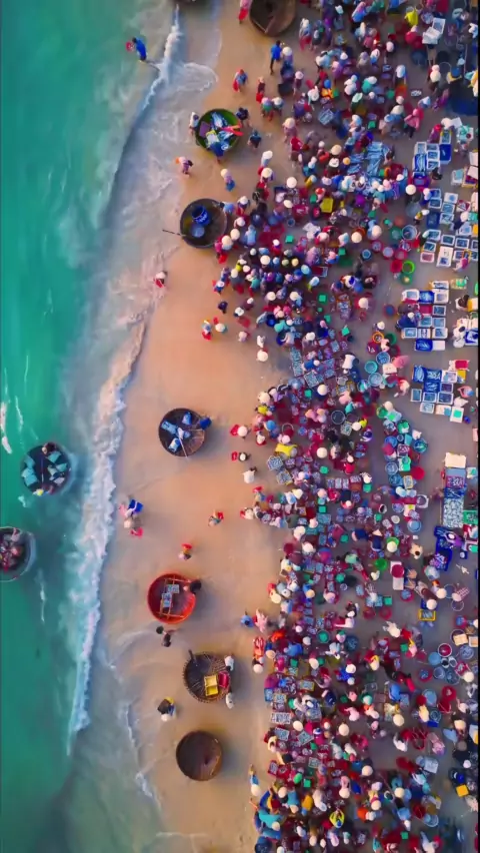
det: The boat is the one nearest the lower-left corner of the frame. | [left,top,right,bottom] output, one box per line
[174,731,223,781]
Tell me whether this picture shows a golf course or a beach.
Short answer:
beach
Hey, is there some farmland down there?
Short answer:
No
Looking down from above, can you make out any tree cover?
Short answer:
No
